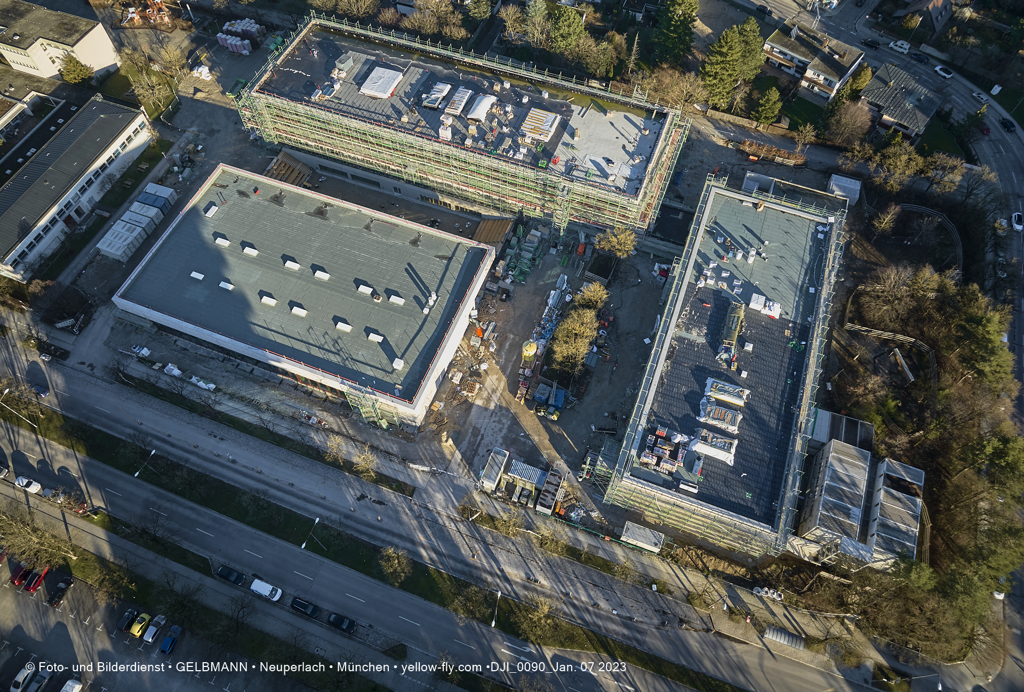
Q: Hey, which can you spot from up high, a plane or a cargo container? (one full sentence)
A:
There is a cargo container in the scene.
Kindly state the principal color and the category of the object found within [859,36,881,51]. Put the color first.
black vehicle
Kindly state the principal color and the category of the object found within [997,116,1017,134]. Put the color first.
black car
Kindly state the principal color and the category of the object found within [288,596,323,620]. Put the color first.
black vehicle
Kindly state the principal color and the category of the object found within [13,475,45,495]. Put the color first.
white car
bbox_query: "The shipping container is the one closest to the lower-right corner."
[618,522,665,555]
